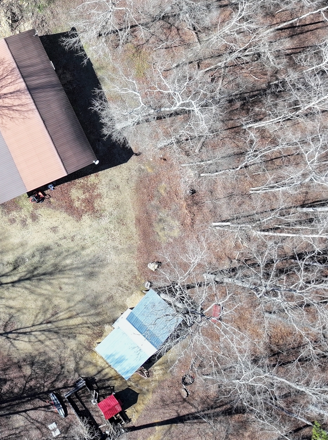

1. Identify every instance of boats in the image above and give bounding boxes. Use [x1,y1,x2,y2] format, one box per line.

[51,394,66,420]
